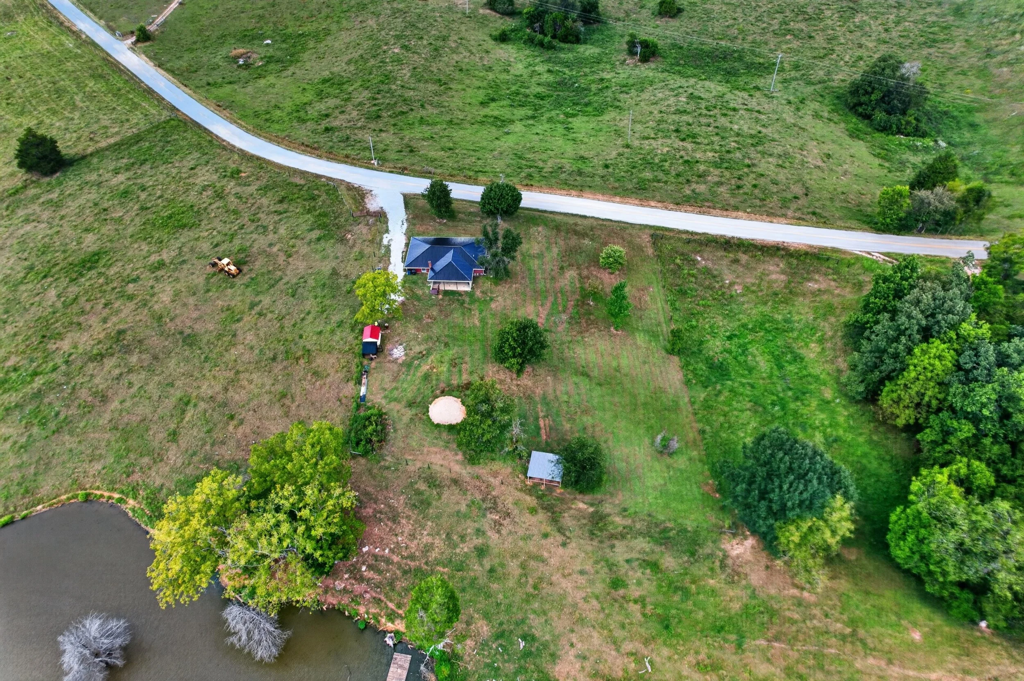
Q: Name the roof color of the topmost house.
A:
blue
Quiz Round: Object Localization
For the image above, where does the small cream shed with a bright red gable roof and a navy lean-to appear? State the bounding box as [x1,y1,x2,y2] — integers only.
[360,323,382,361]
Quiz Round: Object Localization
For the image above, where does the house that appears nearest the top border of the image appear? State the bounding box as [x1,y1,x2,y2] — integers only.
[403,236,488,293]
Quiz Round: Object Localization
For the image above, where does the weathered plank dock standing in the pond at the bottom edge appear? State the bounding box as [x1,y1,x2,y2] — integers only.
[387,653,411,681]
